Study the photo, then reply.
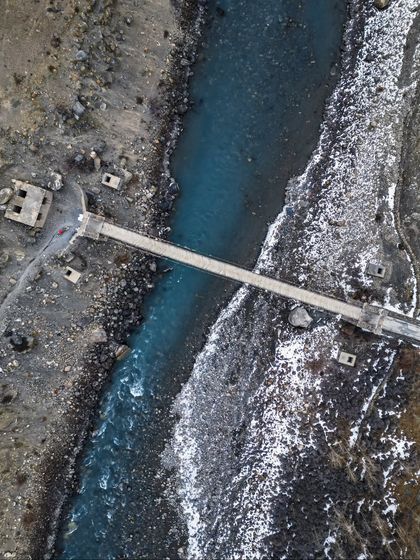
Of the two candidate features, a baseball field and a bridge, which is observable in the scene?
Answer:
bridge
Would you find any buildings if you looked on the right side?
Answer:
No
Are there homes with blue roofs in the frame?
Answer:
No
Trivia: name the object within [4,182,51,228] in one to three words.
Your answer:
house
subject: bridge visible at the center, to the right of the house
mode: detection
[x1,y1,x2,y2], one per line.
[75,208,389,333]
